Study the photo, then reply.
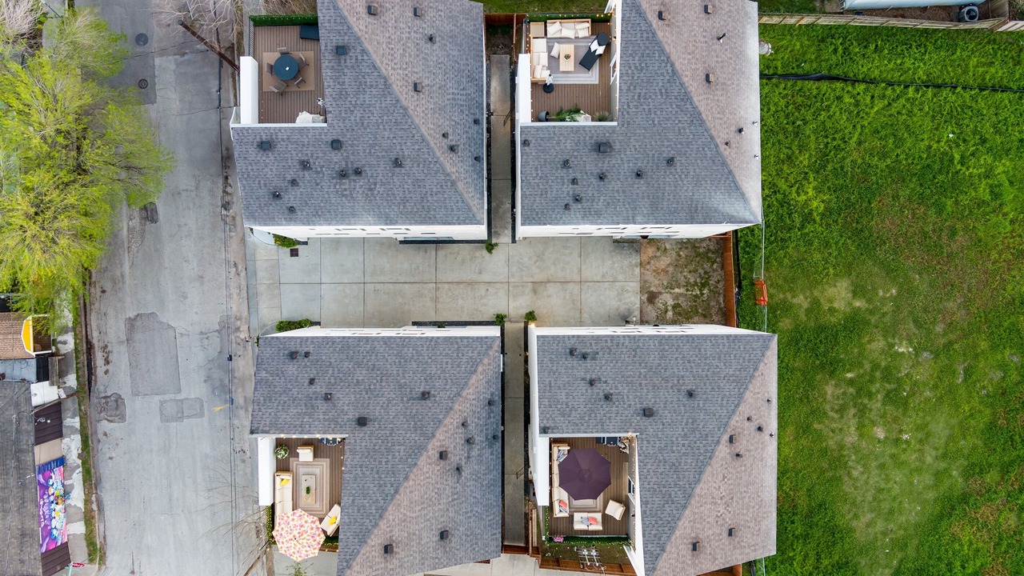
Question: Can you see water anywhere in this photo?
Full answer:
No, the picture contains no water.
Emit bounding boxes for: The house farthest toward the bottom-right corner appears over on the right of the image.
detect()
[529,324,780,576]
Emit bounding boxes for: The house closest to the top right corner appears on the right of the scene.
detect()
[516,0,763,239]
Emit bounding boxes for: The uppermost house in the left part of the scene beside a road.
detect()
[232,0,488,239]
